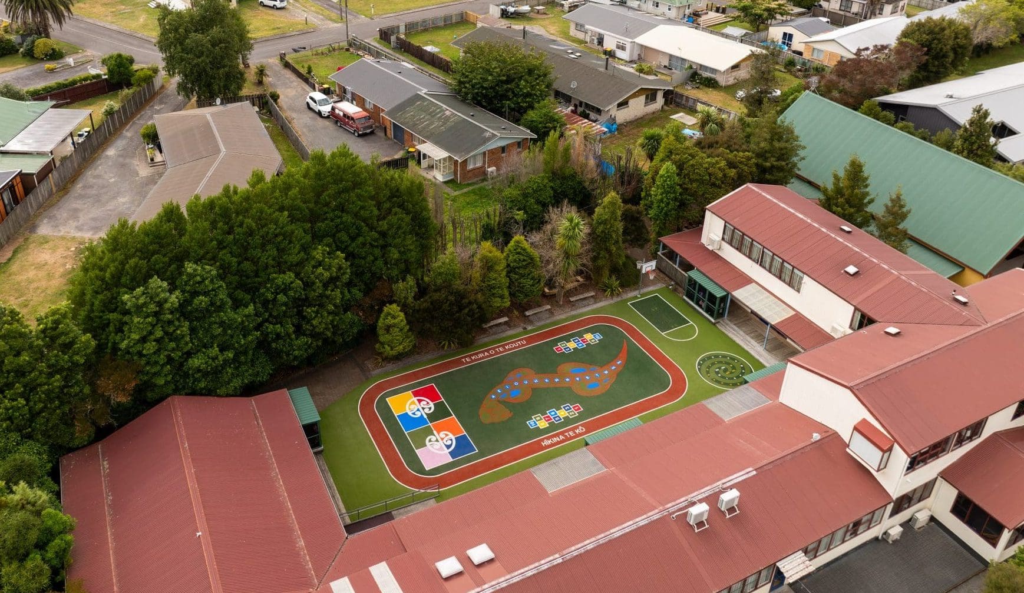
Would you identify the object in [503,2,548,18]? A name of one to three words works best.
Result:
boat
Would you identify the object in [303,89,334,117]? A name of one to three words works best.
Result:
car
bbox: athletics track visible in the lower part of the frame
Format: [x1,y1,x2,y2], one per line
[361,313,685,489]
